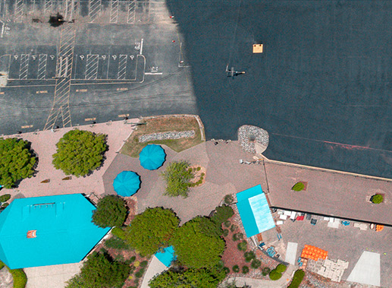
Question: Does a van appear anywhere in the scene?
No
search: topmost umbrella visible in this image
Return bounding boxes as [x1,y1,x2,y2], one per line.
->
[140,143,167,170]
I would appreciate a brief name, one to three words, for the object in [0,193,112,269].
building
